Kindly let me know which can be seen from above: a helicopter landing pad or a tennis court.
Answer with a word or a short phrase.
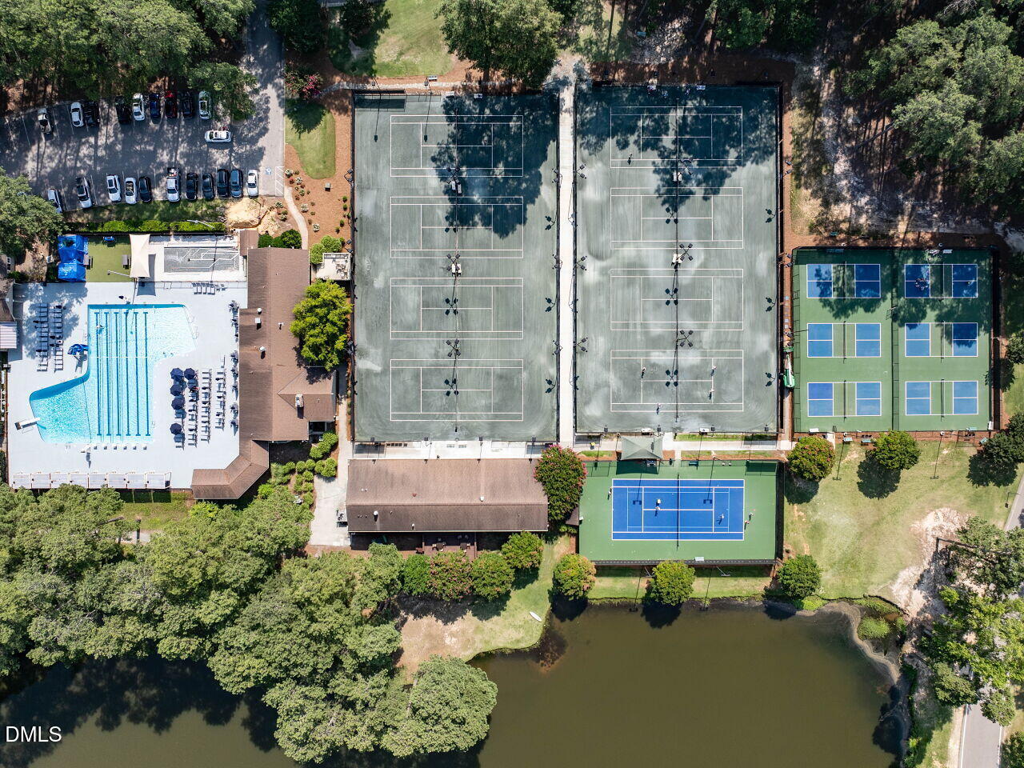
tennis court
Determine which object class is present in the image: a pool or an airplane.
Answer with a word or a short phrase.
pool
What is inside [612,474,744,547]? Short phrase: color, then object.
blue tennis court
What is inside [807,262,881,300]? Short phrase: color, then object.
blue sports court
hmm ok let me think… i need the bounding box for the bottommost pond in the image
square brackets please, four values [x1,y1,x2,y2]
[0,596,912,768]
